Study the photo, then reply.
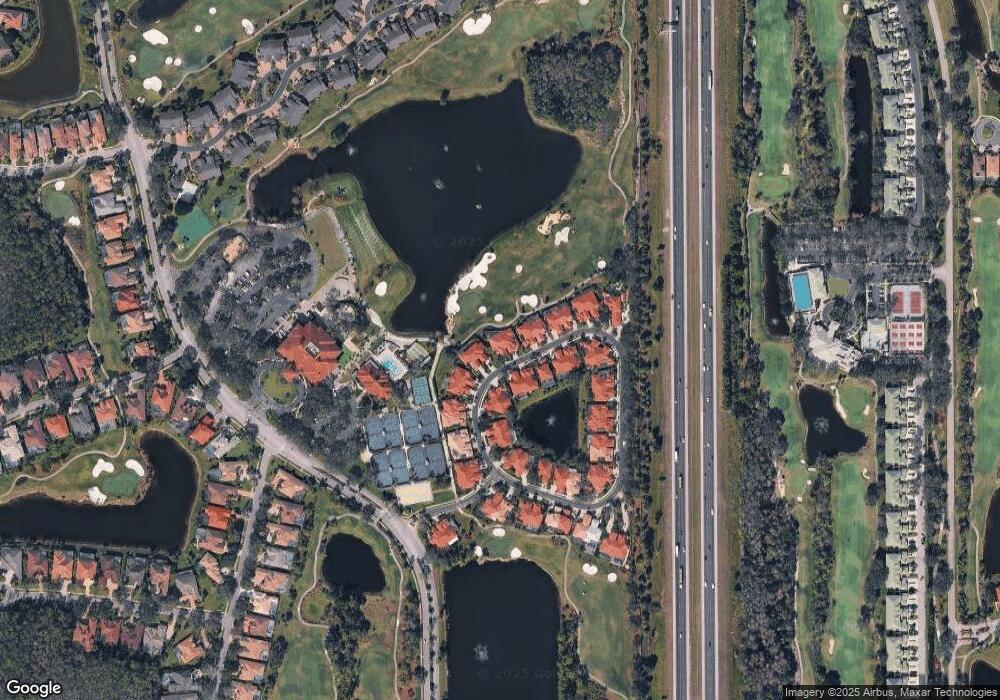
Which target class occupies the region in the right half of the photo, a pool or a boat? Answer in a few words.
pool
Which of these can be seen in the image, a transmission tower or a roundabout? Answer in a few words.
roundabout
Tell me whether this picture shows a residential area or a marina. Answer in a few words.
residential area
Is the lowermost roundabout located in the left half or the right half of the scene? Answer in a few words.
left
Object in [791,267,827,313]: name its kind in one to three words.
swimming pool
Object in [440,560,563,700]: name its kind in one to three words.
pond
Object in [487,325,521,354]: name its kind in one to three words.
house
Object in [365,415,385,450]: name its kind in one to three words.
tennis court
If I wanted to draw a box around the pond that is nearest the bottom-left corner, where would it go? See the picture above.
[322,533,384,592]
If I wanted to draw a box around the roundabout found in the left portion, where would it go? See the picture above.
[255,361,309,411]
